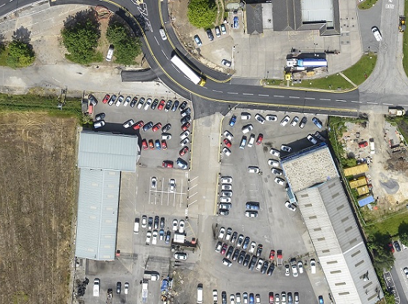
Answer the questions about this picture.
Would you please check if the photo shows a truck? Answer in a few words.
Yes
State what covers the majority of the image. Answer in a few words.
paved ground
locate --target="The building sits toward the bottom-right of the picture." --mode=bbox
[279,140,387,304]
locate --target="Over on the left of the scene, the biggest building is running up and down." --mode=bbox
[76,128,139,260]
